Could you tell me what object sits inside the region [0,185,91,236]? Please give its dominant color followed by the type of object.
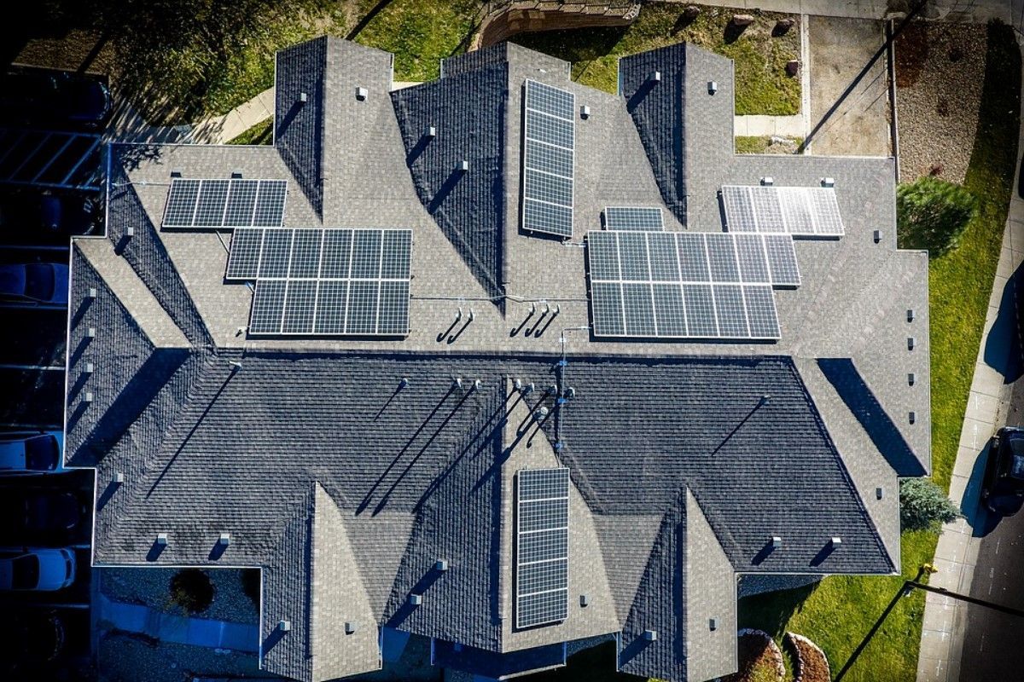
black car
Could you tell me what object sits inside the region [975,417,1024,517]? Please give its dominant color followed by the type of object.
black car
